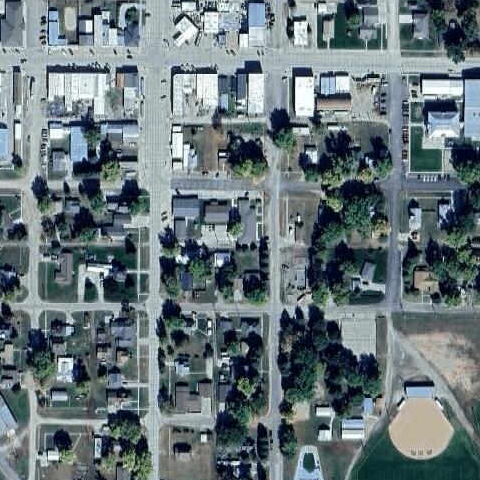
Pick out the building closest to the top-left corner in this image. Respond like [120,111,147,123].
[1,0,23,46]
